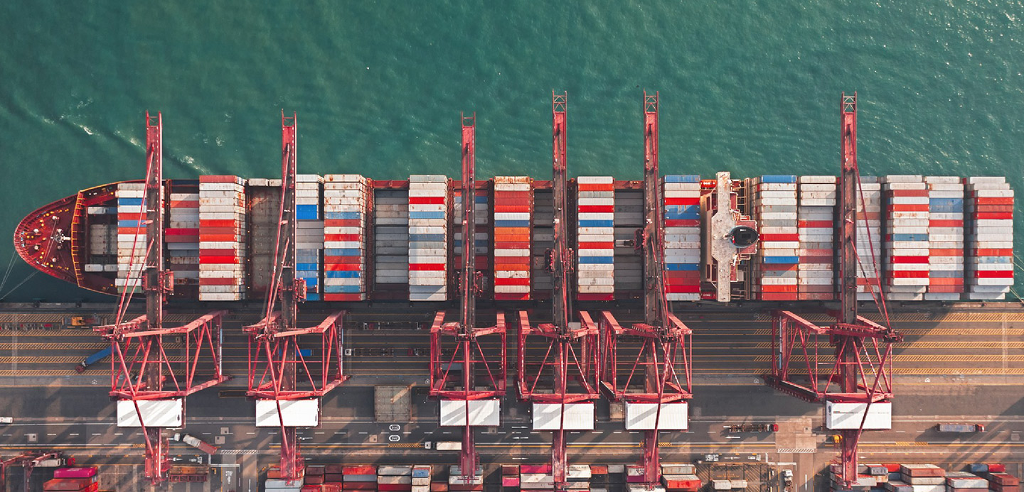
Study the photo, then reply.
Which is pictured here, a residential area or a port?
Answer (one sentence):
The picture captures a port.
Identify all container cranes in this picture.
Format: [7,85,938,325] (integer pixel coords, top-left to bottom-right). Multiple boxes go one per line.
[0,452,59,492]
[512,92,600,490]
[591,92,694,490]
[100,112,246,490]
[428,112,512,490]
[759,92,897,490]
[245,112,360,490]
